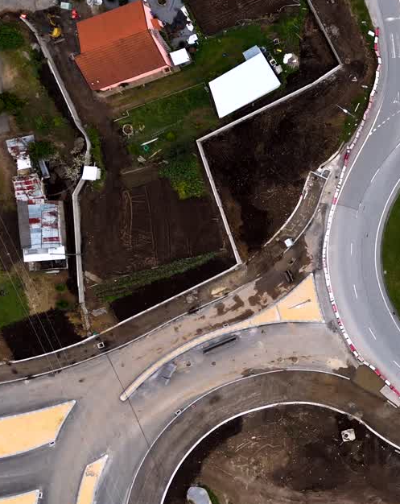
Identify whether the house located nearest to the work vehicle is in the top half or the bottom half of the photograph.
top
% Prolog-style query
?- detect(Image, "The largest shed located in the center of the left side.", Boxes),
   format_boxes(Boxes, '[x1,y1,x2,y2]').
[17,199,72,248]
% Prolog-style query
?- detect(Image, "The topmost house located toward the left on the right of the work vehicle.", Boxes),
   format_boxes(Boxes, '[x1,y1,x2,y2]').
[75,0,177,92]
